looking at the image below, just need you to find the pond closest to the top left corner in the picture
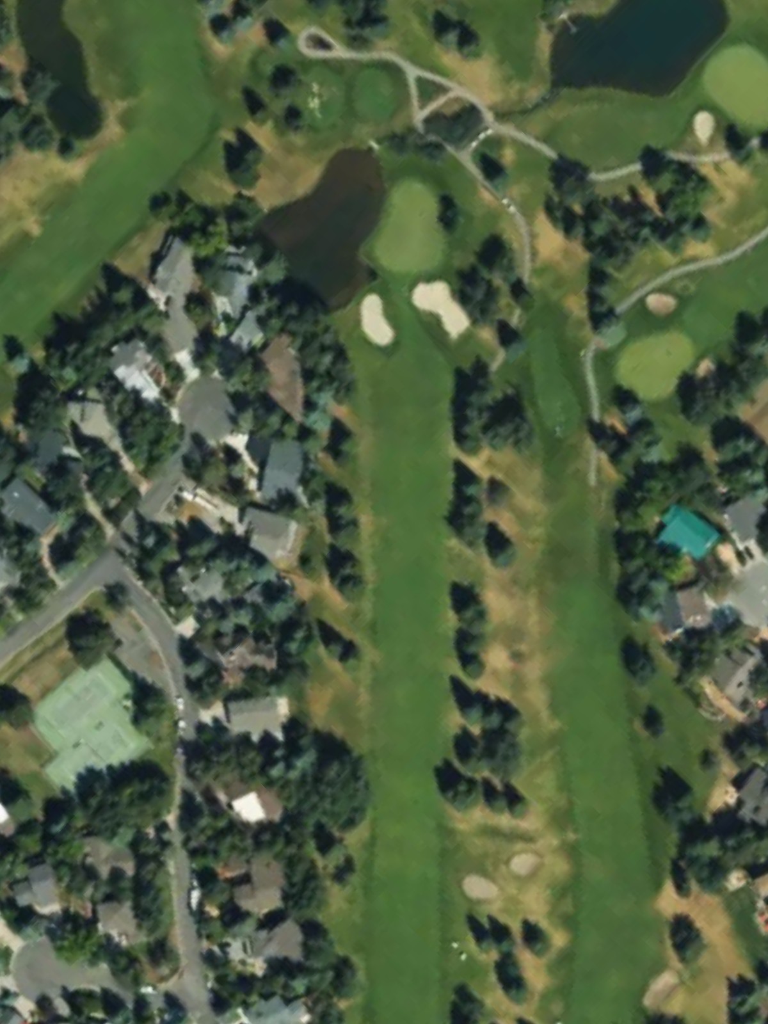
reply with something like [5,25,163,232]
[17,0,102,139]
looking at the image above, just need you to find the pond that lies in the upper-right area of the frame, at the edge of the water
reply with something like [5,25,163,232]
[551,0,728,97]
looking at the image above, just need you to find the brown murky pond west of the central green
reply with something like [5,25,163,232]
[259,148,384,313]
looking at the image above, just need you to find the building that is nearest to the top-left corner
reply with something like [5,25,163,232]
[150,233,195,301]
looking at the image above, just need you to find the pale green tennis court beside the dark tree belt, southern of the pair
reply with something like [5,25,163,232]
[70,723,132,774]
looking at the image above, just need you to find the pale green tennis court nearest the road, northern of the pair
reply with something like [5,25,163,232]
[50,673,111,731]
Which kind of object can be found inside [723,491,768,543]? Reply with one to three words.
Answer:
house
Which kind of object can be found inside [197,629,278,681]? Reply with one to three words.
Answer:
house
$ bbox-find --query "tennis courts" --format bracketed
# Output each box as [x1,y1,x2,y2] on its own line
[70,723,132,774]
[50,673,111,731]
